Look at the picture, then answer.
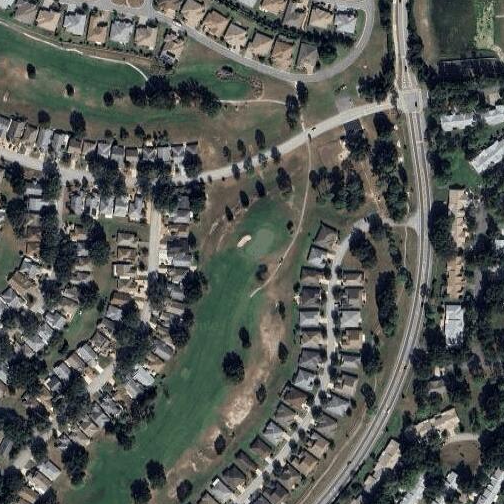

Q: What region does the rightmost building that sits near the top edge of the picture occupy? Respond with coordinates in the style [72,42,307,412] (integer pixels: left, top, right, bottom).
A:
[334,8,357,32]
